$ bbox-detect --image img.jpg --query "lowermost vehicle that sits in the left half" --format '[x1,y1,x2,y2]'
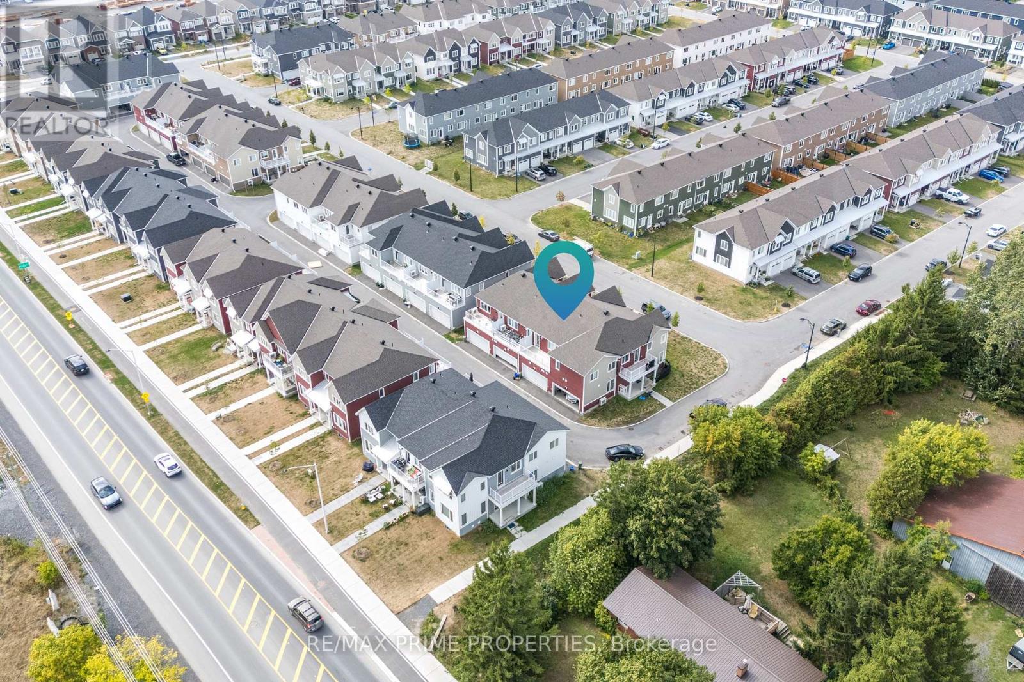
[286,597,322,631]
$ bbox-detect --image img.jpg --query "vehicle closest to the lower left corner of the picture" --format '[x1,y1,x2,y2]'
[94,479,123,509]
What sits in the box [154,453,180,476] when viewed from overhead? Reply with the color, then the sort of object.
white car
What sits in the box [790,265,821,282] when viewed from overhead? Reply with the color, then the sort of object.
gray car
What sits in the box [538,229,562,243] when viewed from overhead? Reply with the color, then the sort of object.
gray car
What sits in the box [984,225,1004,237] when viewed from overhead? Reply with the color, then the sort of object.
white vehicle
